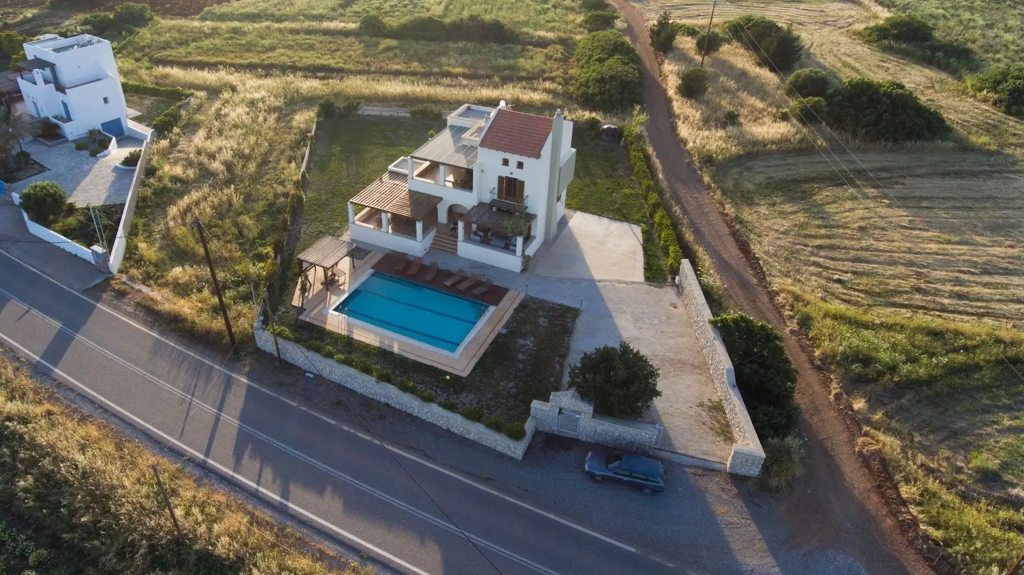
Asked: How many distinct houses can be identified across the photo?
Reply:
2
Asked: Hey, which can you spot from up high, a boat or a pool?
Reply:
pool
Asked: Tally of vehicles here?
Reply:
1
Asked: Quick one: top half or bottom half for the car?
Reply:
bottom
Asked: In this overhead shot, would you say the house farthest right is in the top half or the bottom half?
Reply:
top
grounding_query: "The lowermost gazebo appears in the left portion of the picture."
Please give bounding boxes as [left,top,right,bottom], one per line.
[295,234,357,292]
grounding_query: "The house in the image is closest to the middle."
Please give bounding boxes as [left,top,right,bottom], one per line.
[347,104,576,272]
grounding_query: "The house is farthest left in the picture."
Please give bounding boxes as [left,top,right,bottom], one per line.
[15,31,129,157]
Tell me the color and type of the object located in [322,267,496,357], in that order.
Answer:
blue swimming pool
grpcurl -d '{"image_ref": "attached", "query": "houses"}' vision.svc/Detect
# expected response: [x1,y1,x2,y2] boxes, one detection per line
[347,104,576,272]
[15,31,129,157]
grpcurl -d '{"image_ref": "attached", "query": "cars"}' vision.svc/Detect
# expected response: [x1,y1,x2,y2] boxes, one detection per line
[583,449,670,497]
